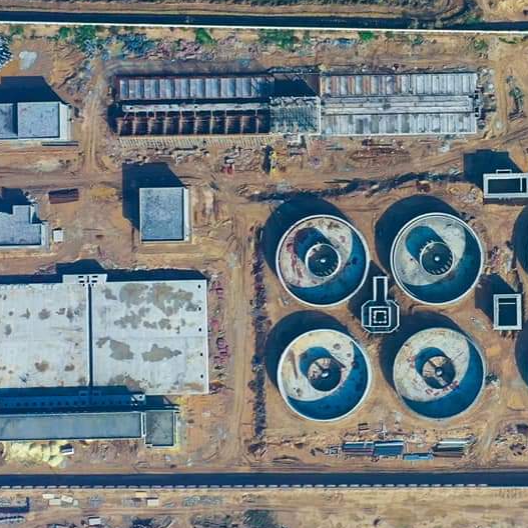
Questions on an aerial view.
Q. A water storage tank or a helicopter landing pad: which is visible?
water storage tank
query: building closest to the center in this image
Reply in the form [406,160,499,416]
[140,187,192,244]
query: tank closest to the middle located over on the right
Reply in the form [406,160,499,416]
[277,214,370,307]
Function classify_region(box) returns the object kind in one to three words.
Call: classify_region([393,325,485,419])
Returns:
water tank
